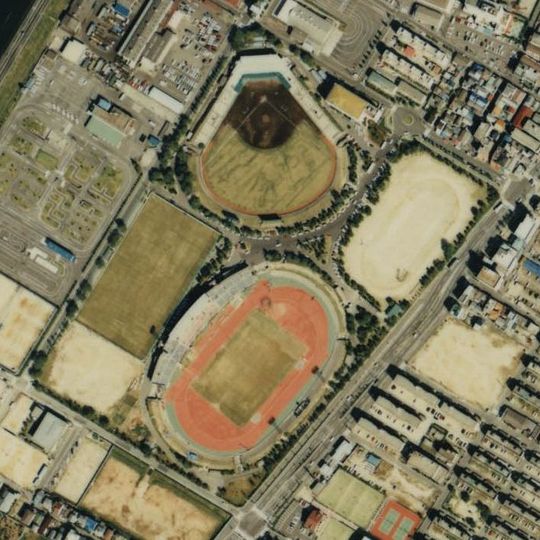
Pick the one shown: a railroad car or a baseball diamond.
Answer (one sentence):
It is a baseball diamond that can be seen here.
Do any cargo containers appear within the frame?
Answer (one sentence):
No, there's no cargo container here.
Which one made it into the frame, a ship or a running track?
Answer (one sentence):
The image shows a running track.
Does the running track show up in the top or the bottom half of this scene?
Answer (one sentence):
The running track is in the bottom half of the image.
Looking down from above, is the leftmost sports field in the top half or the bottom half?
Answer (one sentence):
It is in the bottom half that the leftmost sports field appears.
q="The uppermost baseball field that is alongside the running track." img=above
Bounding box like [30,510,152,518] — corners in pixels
[201,75,337,217]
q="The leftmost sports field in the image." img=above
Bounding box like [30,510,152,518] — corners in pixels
[43,322,139,411]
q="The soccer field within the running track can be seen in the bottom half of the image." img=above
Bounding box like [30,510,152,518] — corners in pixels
[192,310,306,426]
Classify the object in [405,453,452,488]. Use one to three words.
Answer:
building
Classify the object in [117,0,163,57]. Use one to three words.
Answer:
building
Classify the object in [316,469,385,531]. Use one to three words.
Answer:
sports field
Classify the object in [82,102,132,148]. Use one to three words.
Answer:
shed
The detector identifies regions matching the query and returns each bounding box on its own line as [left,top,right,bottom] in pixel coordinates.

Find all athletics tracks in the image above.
[164,276,335,458]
